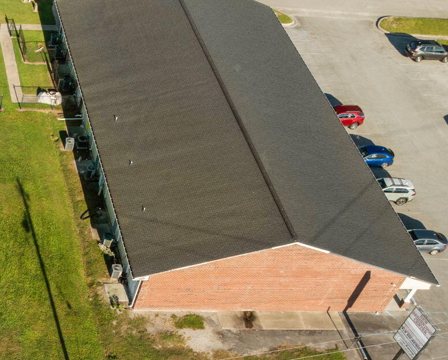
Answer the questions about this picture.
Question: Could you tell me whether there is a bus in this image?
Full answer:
No, there isn't any bus down there.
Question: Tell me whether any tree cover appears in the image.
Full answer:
No, there's no tree cover in this view.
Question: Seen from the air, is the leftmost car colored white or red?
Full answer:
The leftmost car looks red in the image.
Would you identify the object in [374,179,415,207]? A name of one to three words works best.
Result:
car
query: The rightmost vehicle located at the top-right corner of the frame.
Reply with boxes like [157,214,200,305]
[404,39,448,63]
